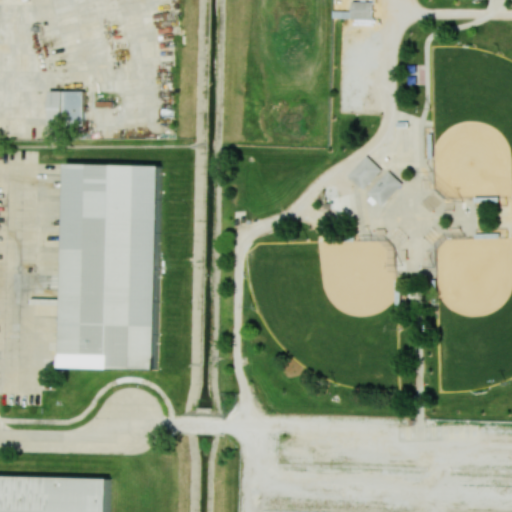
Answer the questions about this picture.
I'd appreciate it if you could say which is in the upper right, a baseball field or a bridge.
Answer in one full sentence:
Looking in the upper right, you will find a baseball field.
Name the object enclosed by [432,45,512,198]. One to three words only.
baseball field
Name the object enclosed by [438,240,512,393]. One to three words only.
baseball field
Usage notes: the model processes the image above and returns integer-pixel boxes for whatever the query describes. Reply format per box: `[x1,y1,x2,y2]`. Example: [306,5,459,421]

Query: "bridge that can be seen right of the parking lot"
[184,408,226,434]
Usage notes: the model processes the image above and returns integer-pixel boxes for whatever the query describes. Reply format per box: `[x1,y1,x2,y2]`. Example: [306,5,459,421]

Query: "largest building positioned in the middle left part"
[57,165,162,370]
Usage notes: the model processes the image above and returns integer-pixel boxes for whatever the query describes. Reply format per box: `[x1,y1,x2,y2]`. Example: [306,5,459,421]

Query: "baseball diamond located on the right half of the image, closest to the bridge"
[246,240,402,392]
